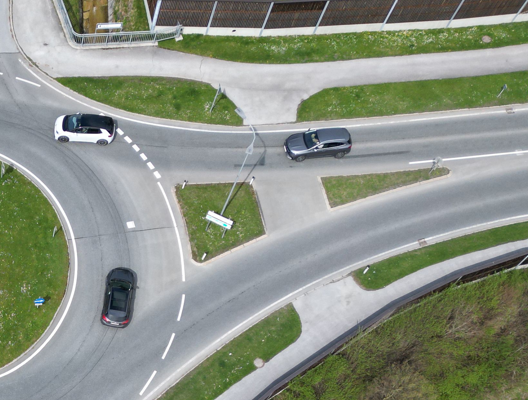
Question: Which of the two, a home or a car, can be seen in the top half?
car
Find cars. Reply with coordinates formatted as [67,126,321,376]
[54,113,114,146]
[101,264,139,328]
[285,126,358,162]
